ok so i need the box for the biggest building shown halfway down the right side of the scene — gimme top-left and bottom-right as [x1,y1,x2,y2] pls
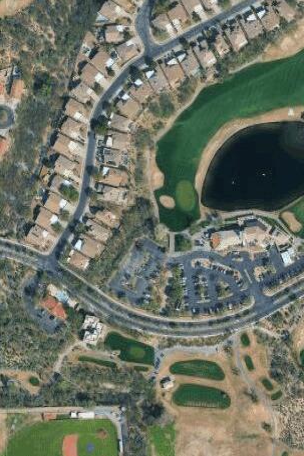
[209,228,291,251]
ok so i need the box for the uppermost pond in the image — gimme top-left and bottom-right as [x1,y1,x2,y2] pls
[201,121,304,212]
